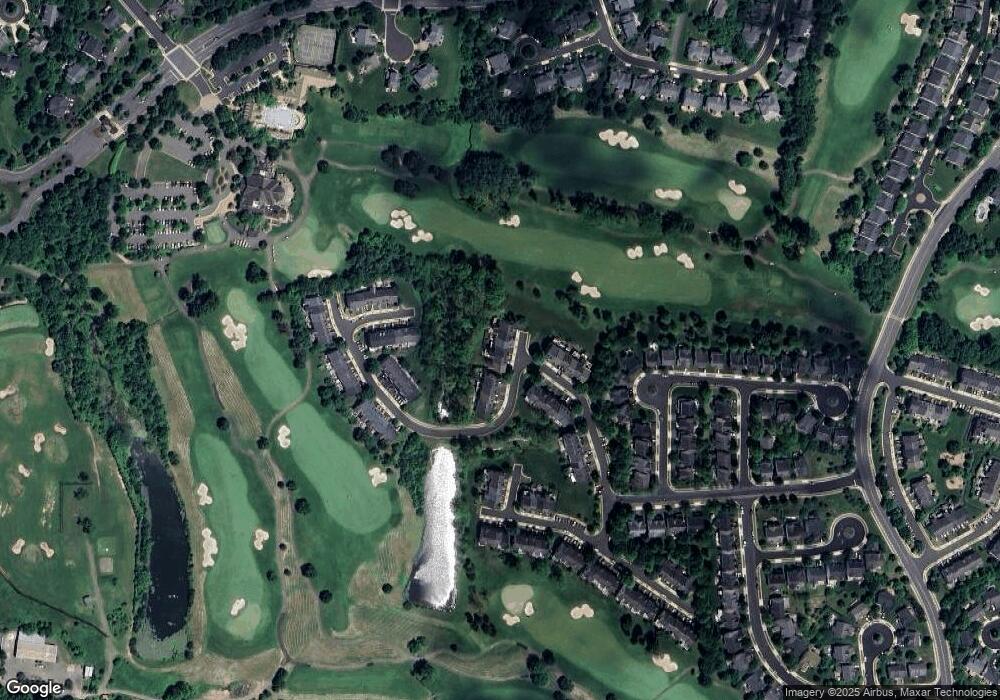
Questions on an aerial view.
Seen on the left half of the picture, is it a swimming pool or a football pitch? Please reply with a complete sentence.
It is a swimming pool that can be seen on the left half of the picture.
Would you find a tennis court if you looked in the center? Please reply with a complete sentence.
No, in the center there is no tennis court.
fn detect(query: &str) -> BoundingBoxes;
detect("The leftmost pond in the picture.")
[136,440,190,639]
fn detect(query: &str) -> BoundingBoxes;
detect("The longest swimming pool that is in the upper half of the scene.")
[241,101,306,139]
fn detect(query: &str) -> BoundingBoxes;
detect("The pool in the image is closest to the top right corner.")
[978,201,996,221]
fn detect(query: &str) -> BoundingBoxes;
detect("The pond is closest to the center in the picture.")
[408,446,457,609]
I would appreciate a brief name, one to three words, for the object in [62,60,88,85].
house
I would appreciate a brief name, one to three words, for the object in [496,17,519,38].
house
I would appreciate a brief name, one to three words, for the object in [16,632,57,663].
building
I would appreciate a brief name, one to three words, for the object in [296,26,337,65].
tennis court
